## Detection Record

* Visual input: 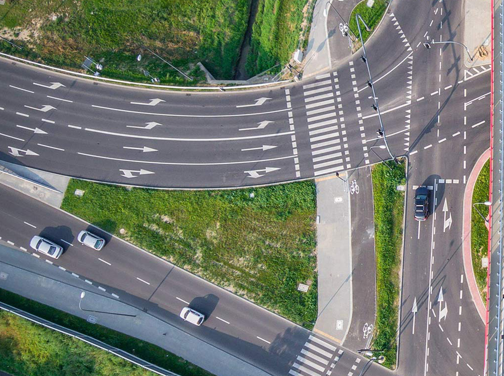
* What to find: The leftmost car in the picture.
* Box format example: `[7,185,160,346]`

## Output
[30,236,65,260]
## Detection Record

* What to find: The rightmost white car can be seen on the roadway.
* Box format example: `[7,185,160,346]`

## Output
[180,307,207,327]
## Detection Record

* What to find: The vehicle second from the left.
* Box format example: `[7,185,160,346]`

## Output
[78,232,107,250]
